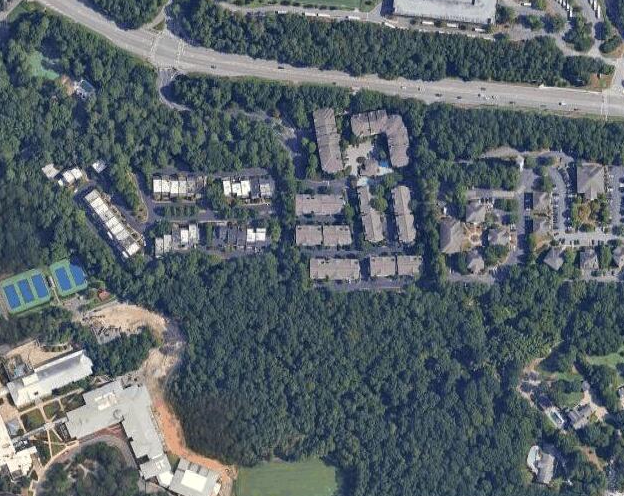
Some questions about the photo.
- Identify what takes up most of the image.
trees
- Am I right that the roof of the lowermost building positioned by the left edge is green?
No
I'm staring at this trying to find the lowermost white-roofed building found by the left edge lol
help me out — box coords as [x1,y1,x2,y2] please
[4,445,37,478]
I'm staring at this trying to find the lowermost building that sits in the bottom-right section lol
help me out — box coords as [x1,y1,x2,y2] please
[537,454,553,482]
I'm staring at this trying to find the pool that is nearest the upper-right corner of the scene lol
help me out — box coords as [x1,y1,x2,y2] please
[376,158,394,176]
